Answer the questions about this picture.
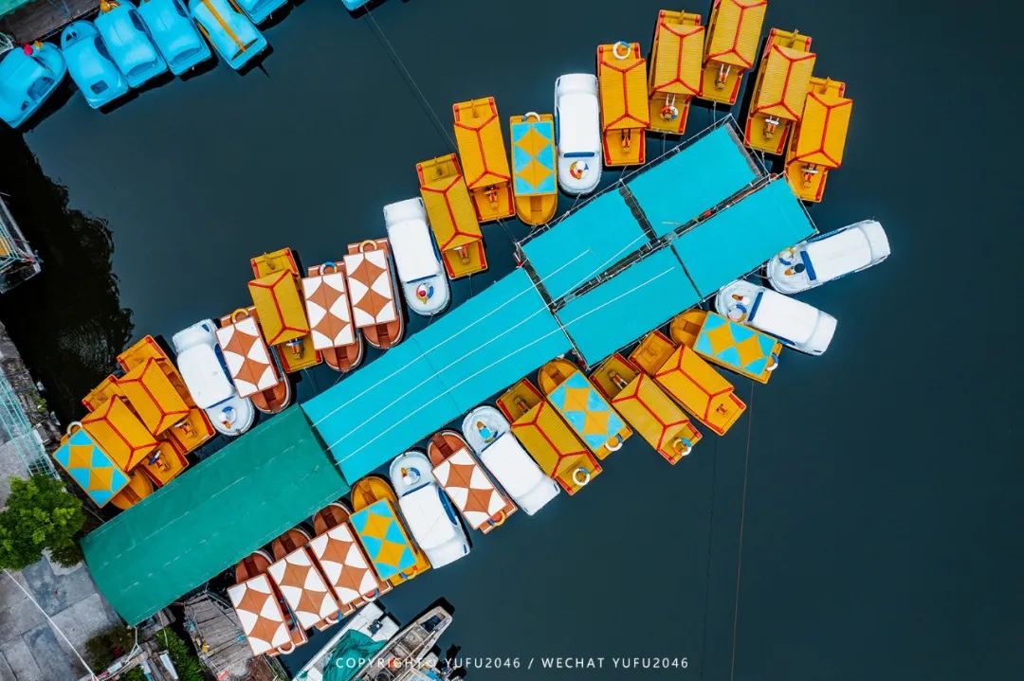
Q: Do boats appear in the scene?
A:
Yes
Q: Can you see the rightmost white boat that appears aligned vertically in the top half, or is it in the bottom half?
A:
top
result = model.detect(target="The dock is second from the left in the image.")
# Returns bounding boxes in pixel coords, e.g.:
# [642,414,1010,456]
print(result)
[182,578,283,681]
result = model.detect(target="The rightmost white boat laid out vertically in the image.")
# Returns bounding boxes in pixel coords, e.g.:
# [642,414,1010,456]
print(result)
[553,73,603,207]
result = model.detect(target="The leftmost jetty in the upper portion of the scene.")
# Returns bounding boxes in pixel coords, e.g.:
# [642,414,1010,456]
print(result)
[1,0,95,44]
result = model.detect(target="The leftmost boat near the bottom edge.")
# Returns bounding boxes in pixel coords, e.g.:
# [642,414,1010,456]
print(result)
[229,549,310,660]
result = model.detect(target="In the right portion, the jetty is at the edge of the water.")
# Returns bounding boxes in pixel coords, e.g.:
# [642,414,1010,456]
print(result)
[515,113,820,371]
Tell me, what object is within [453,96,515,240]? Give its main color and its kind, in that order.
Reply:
orange boat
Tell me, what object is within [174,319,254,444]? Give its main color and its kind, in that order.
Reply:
white boat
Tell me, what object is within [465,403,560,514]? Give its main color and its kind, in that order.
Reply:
white boat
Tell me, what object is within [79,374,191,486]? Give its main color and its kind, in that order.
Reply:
orange boat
